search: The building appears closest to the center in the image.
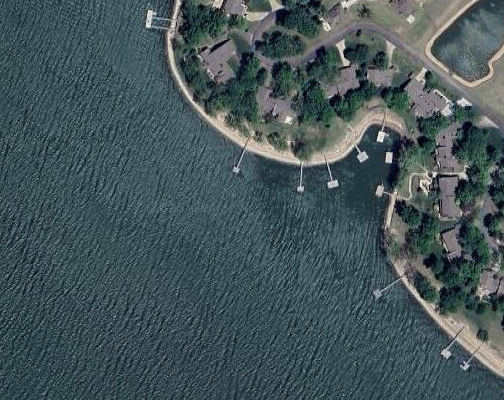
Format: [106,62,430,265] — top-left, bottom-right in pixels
[255,86,297,125]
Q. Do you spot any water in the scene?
Yes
